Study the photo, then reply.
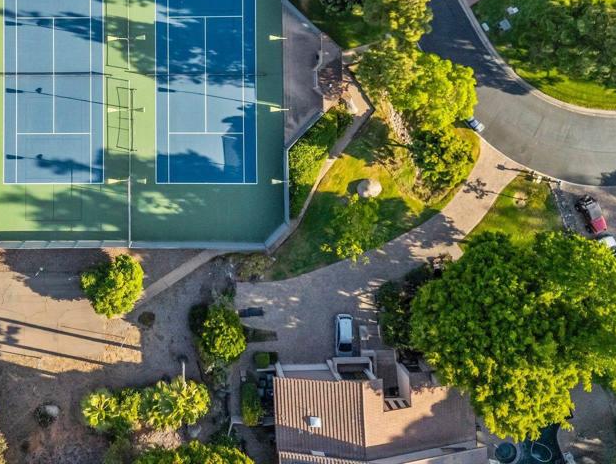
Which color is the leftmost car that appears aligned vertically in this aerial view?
blue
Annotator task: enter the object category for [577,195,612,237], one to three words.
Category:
car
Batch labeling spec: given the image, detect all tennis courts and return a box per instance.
[0,0,128,243]
[128,0,285,243]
